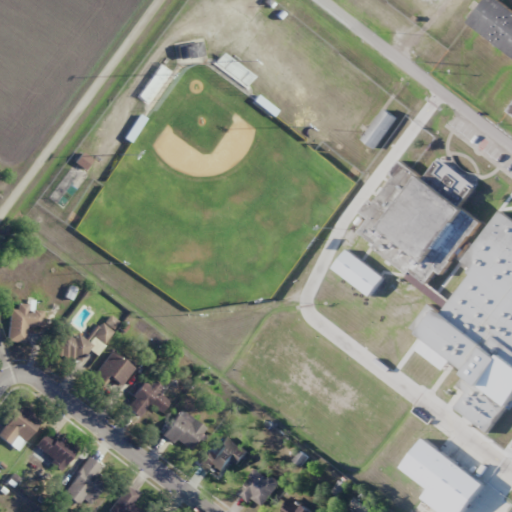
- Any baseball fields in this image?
Yes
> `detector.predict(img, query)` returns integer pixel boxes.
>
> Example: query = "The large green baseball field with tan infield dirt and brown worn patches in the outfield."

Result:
[78,65,354,310]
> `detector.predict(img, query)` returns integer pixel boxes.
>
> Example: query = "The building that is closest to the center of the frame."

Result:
[331,250,382,296]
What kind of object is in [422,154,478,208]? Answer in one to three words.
building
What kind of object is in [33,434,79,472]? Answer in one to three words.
house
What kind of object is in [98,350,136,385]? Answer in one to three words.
house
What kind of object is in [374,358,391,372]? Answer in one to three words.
vehicle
